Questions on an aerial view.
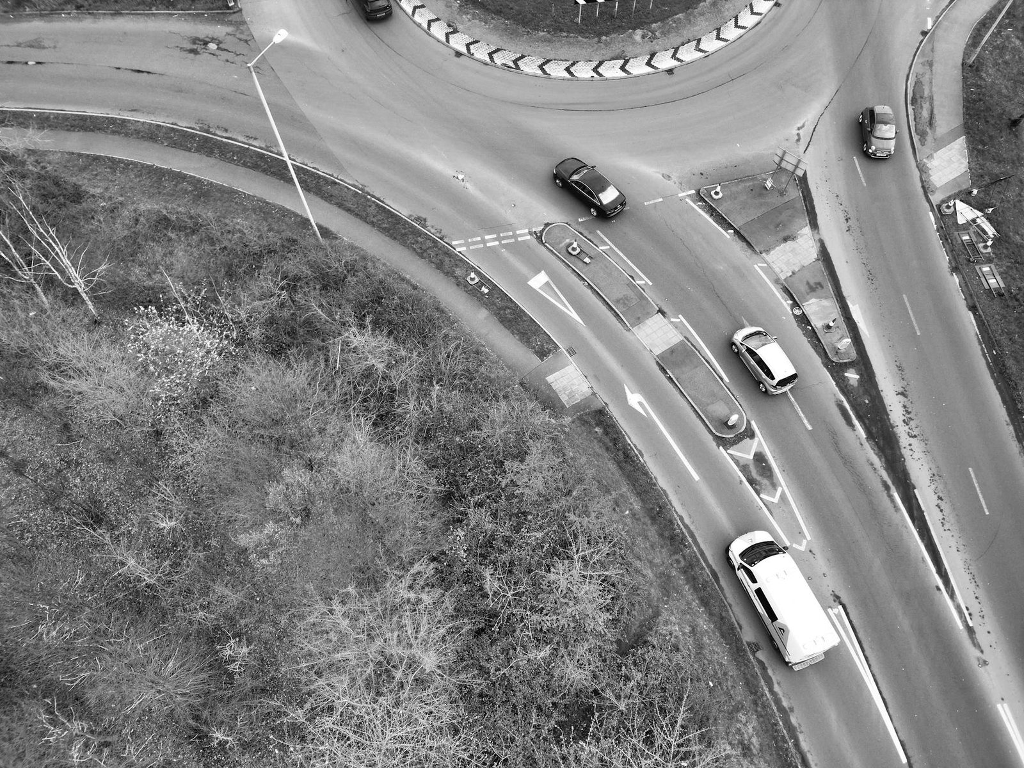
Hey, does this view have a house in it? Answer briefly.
No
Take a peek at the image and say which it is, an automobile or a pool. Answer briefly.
automobile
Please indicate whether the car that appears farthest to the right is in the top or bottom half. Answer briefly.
top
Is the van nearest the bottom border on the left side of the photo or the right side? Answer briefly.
right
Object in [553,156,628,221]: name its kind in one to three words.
car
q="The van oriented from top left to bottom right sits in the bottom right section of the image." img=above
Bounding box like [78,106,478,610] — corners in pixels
[727,536,840,678]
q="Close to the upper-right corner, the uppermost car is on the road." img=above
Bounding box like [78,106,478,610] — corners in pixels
[858,104,901,159]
